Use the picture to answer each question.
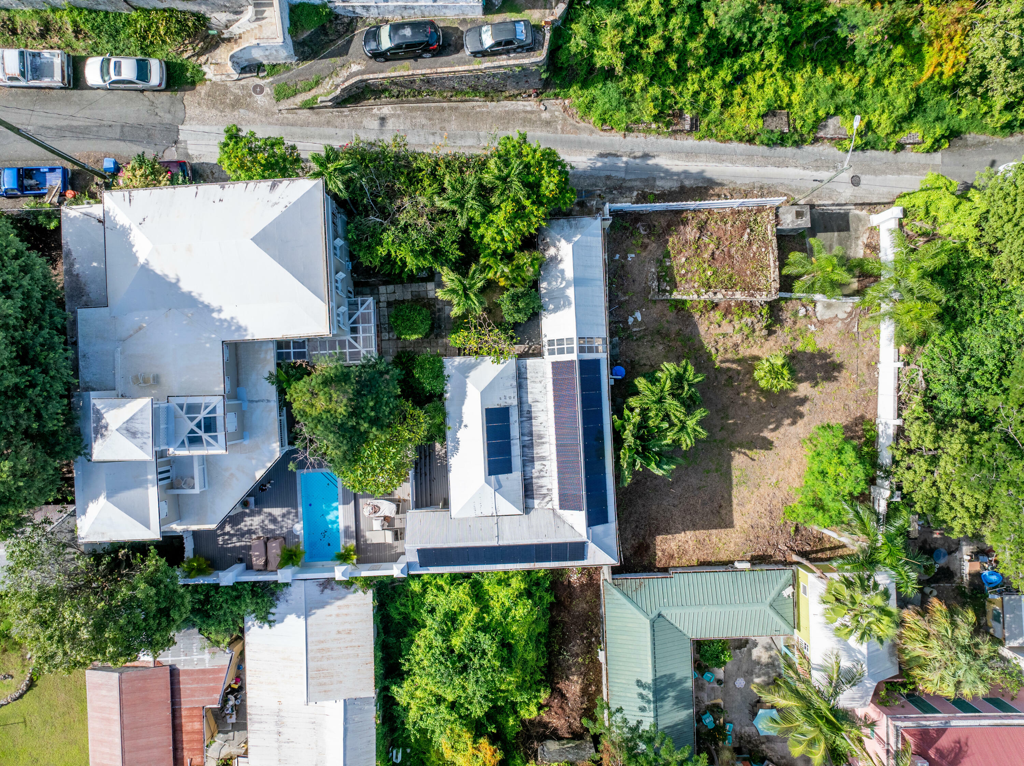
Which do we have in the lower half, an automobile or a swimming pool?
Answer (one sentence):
Looking in the lower half, you will find a swimming pool.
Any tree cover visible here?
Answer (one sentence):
Yes, tree cover can be seen from above here.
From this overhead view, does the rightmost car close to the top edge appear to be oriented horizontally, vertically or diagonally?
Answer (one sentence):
In this picture, the rightmost car close to the top edge lies horizontally.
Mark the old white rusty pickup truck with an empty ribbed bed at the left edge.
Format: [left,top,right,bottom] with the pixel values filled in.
[0,49,77,95]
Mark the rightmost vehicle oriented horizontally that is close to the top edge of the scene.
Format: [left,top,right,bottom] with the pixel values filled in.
[462,15,538,58]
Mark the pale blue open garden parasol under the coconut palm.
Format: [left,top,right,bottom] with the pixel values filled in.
[750,706,779,736]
